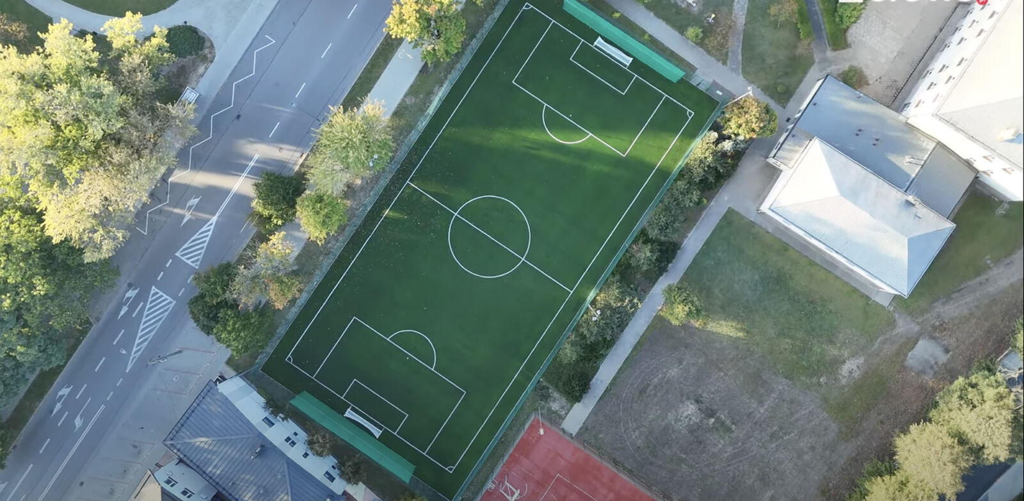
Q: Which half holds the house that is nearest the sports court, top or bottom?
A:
bottom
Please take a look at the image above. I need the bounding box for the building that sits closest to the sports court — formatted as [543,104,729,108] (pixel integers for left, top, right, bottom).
[162,371,361,501]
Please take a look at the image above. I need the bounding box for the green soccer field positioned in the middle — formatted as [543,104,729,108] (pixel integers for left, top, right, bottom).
[261,0,719,499]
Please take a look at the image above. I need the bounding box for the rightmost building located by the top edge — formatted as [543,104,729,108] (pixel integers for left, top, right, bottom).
[907,0,1024,198]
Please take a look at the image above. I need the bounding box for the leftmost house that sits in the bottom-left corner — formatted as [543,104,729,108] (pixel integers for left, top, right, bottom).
[124,456,224,501]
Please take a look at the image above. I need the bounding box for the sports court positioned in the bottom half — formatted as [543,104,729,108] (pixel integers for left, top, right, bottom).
[471,406,668,501]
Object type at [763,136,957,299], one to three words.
building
